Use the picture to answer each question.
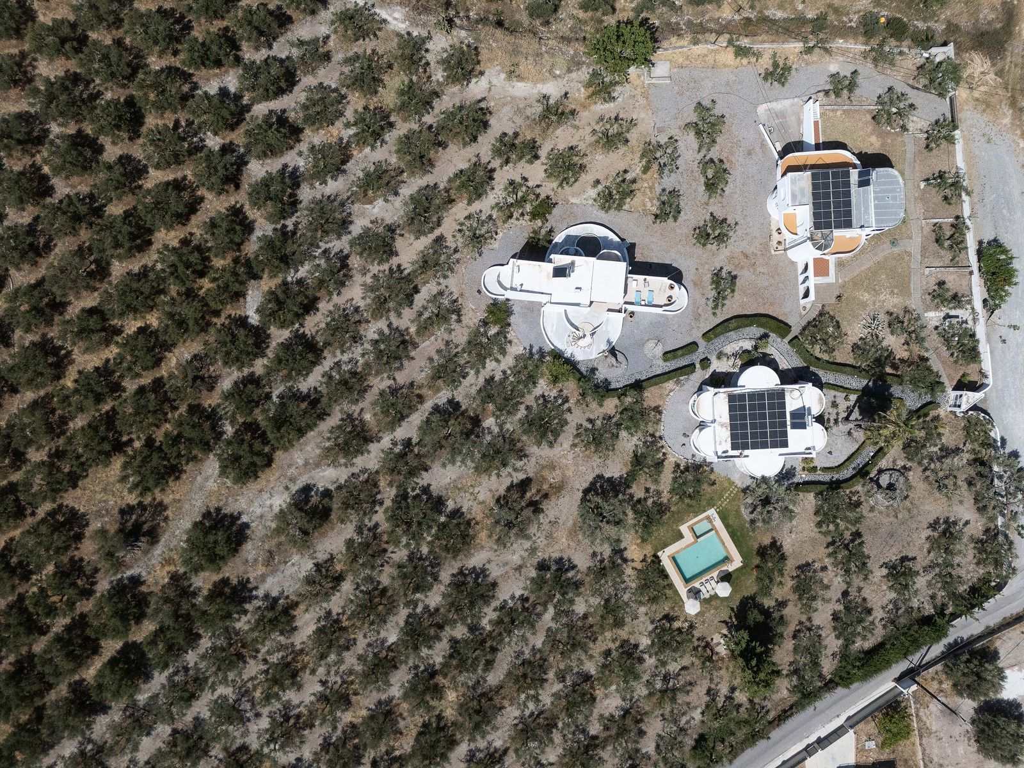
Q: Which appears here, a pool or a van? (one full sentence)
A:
Of the two, only a pool appears.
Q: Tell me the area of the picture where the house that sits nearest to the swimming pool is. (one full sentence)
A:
You can find the house that sits nearest to the swimming pool in the right area of the picture.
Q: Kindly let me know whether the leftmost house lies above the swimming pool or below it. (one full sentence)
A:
The leftmost house is located above the swimming pool in this view.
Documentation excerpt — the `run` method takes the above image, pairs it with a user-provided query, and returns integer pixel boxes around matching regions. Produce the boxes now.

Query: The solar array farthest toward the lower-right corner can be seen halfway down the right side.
[728,392,788,450]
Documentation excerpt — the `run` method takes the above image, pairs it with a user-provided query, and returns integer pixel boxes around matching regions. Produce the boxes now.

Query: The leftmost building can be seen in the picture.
[482,223,688,360]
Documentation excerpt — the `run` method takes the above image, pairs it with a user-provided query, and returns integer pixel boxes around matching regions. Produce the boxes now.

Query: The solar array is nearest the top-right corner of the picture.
[812,169,854,229]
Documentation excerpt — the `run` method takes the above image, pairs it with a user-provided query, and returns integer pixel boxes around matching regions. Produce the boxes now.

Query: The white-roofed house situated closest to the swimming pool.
[687,364,827,478]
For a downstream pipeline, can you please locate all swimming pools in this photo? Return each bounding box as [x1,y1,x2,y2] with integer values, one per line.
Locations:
[658,508,743,600]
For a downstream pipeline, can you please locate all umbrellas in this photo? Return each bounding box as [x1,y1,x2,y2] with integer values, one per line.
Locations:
[684,598,700,614]
[716,581,731,597]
